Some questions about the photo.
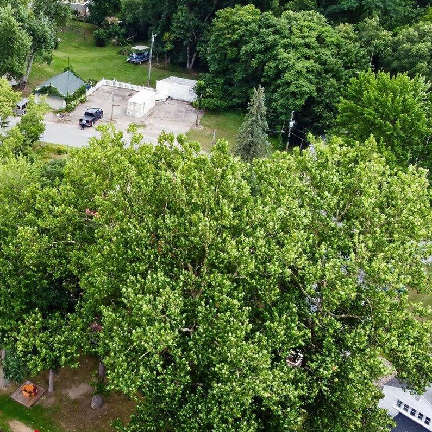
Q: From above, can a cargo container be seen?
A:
Yes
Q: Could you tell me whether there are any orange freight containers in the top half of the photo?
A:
No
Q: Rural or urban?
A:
rural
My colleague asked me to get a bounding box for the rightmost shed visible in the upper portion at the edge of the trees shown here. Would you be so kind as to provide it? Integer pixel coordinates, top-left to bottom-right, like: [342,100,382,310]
[156,70,213,102]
